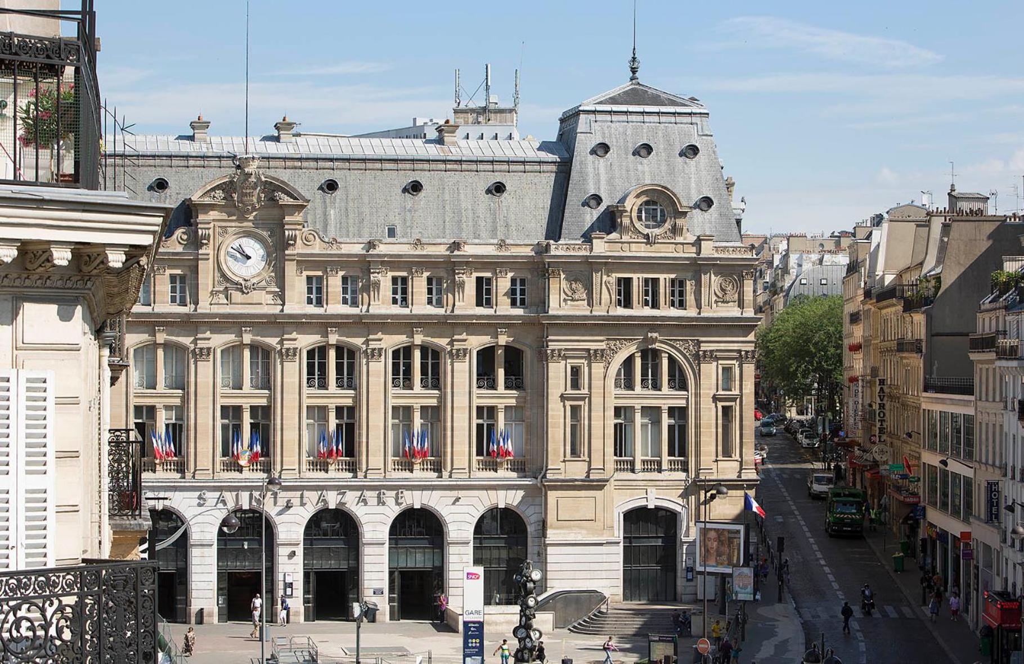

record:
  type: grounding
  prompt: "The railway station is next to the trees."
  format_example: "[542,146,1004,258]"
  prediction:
[97,0,762,626]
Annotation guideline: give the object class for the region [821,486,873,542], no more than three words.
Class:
truck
